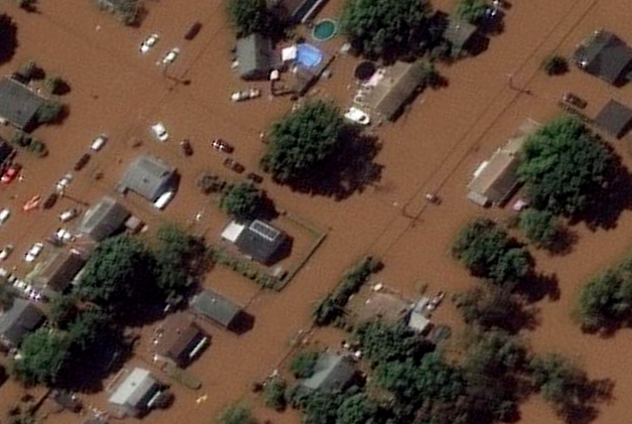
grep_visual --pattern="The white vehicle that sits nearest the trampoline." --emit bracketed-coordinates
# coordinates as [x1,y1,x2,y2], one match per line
[346,107,367,122]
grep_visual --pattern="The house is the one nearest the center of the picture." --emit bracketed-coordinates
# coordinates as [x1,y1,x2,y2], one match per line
[221,221,286,266]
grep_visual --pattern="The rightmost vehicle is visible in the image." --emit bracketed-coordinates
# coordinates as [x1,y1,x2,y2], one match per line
[564,94,583,108]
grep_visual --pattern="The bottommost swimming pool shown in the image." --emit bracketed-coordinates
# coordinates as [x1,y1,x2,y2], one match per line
[296,44,322,68]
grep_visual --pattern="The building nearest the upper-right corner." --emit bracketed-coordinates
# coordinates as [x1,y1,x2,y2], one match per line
[577,30,632,90]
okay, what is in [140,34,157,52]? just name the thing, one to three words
vehicle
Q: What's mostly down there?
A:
water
